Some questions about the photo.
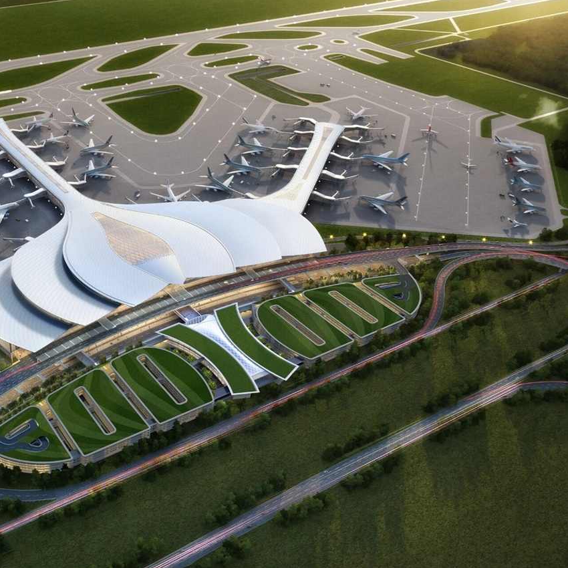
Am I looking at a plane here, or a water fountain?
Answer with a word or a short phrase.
plane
